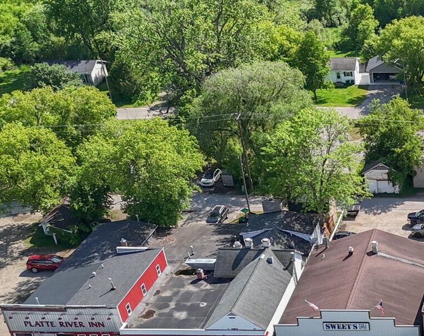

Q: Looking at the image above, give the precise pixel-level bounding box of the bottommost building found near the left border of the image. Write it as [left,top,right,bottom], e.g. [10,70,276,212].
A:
[0,221,165,336]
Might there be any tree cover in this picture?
Yes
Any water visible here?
No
